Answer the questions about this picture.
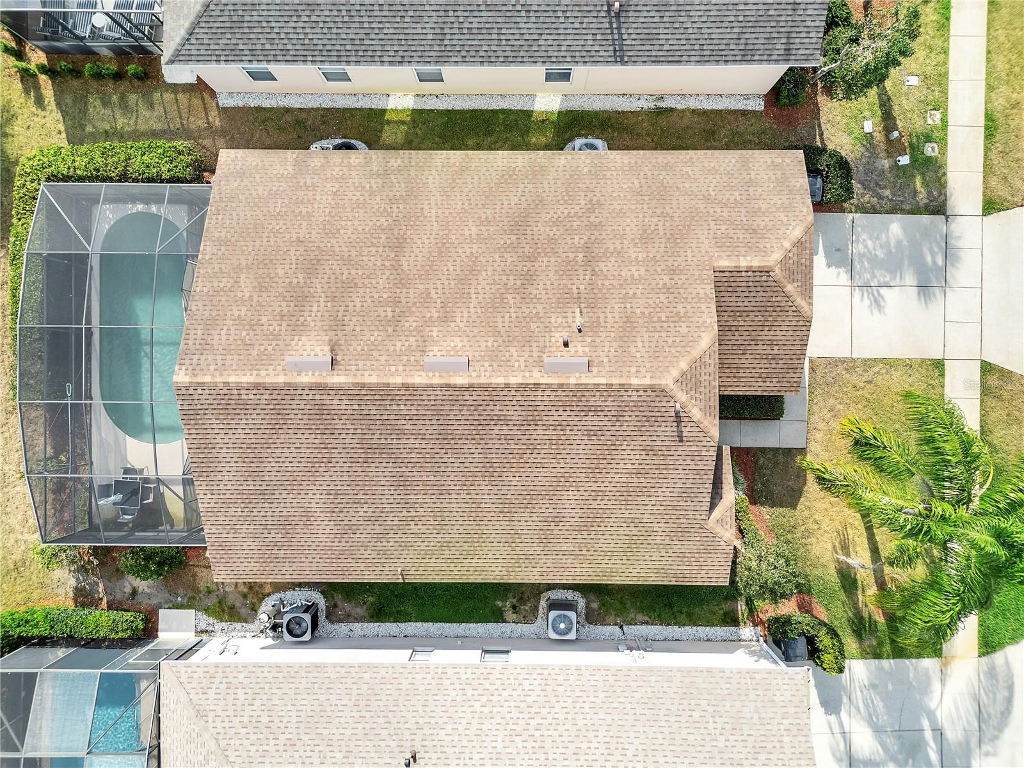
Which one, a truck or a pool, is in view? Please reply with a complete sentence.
Visible in the photo is a pool.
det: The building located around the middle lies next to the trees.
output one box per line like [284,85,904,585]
[174,150,817,584]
